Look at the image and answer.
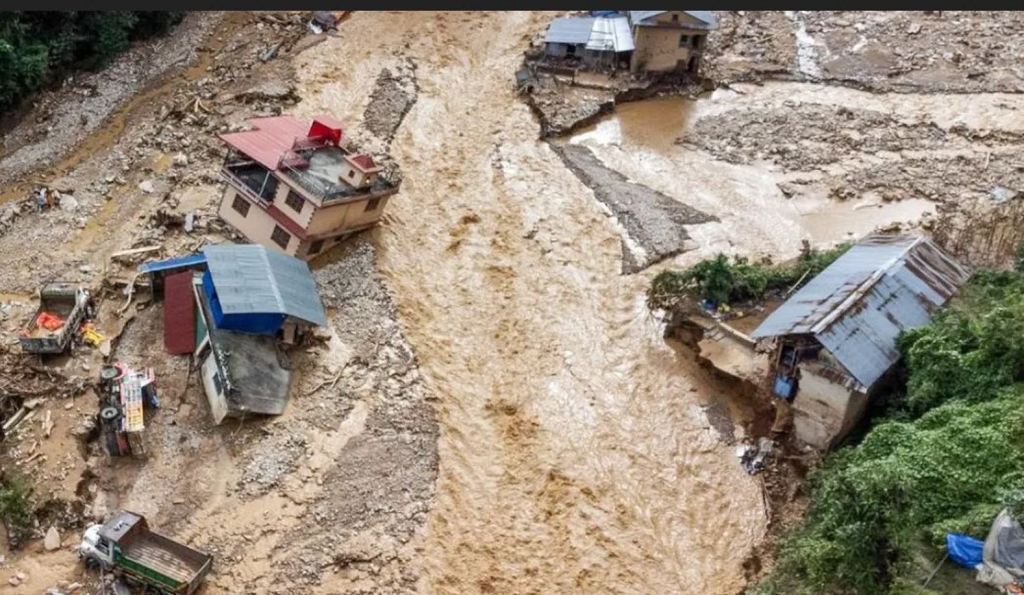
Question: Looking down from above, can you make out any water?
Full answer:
Yes, water can be seen from above here.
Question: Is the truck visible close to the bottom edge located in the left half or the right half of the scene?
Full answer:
The truck visible close to the bottom edge sits on the left side.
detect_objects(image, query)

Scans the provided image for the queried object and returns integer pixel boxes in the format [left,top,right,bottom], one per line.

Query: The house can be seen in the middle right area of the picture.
[744,232,963,448]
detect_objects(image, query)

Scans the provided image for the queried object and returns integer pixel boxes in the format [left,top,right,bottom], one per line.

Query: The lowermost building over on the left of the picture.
[199,295,291,420]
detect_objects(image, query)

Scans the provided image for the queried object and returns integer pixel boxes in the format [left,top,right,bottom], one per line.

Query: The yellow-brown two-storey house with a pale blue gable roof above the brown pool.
[626,0,717,79]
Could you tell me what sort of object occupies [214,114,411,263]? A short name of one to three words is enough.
house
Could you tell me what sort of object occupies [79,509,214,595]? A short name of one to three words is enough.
truck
